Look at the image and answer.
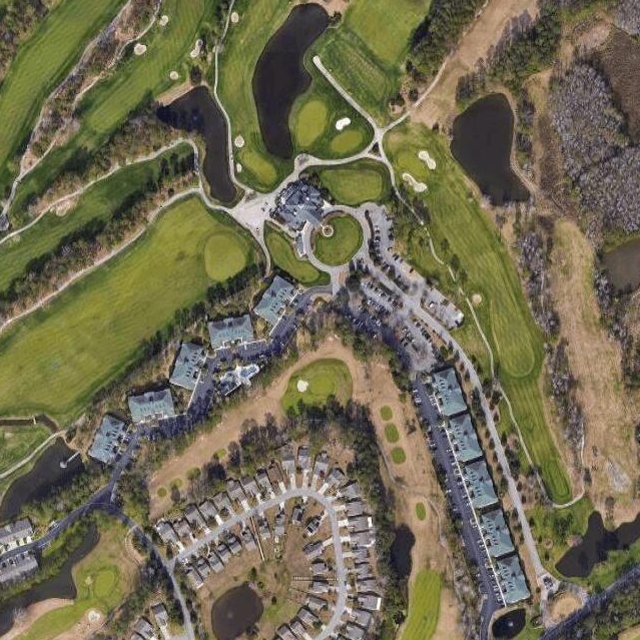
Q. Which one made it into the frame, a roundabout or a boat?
roundabout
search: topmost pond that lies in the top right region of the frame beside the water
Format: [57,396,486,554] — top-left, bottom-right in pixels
[449,92,532,205]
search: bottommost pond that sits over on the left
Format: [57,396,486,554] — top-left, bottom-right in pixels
[210,579,266,640]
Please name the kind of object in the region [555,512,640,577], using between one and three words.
pond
